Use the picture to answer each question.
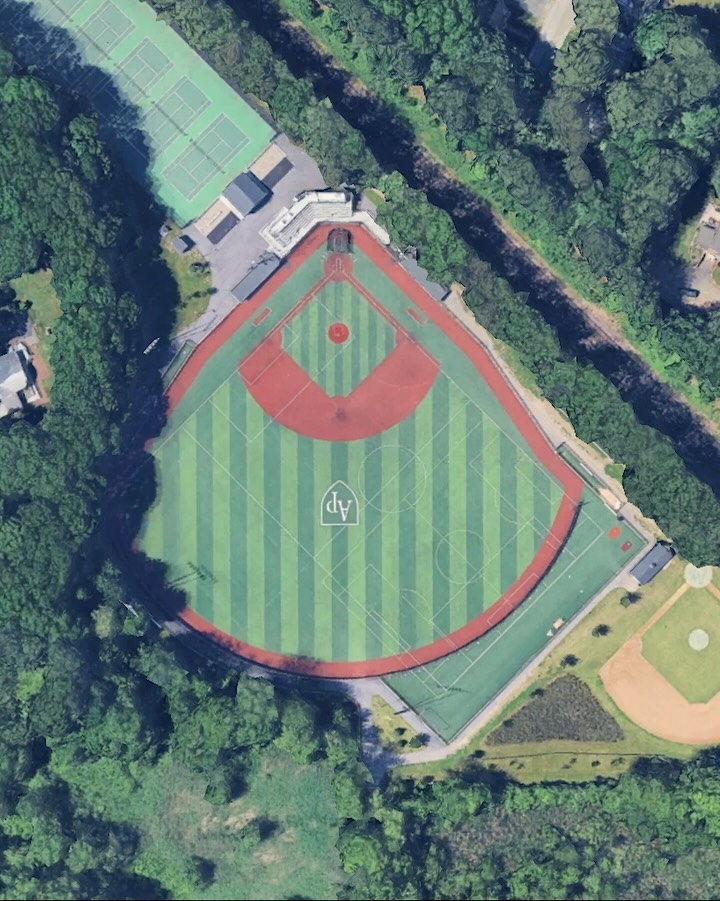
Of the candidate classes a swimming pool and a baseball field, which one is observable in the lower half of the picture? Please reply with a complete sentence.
Looking in the lower half of the picture, you will find a baseball field.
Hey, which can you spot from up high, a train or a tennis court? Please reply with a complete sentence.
Looking from above, you can make out a tennis court.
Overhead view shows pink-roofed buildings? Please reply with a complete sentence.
No, no pink-roofed building is visible in the scene.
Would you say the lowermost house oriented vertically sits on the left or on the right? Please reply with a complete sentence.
The lowermost house oriented vertically appears in the left half of the scene.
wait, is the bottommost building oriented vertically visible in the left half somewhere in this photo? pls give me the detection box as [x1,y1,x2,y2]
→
[0,347,30,413]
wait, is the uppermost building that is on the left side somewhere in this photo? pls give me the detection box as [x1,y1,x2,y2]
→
[222,173,266,219]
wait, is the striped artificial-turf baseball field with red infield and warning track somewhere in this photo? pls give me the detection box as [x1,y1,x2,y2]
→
[98,223,583,699]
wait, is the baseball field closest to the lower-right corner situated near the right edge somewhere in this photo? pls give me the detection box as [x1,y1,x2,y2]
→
[600,561,720,744]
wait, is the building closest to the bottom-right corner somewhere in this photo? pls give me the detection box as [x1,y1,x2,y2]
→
[632,543,673,584]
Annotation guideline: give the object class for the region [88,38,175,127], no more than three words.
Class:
tennis court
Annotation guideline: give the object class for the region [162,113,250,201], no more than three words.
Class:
tennis court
